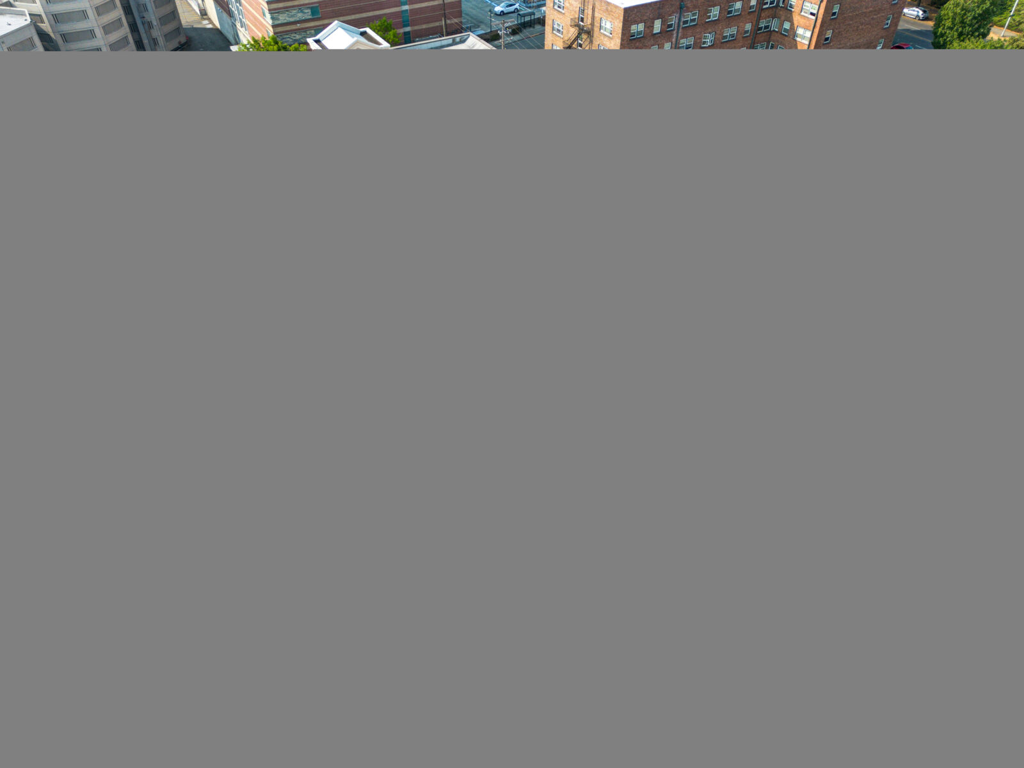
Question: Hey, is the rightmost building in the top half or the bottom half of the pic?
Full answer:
The rightmost building sits in the top half of the picture.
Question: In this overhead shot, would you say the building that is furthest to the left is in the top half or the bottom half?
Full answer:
It is in the top half that the building that is furthest to the left appears.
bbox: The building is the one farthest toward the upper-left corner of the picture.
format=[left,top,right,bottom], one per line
[0,0,187,145]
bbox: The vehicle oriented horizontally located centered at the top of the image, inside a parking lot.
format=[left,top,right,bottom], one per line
[494,2,520,15]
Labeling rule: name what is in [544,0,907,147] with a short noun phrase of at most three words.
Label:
building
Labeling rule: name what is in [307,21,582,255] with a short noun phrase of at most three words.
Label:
building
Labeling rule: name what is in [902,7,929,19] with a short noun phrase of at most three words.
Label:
vehicle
